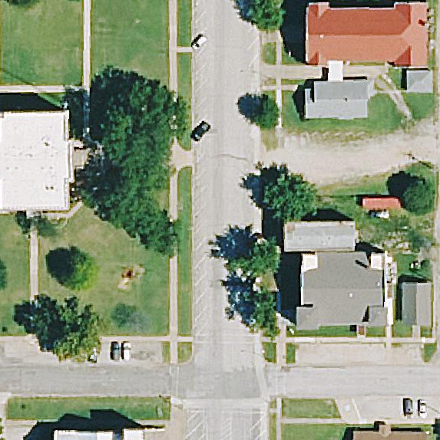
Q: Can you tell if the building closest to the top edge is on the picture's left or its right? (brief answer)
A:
right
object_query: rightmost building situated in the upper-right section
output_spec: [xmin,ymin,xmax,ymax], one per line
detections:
[408,68,433,92]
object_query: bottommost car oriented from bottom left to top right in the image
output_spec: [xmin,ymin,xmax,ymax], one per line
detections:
[193,121,210,139]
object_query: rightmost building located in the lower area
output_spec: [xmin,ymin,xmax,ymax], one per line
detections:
[403,282,432,326]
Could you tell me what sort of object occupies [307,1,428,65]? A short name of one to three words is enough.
building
